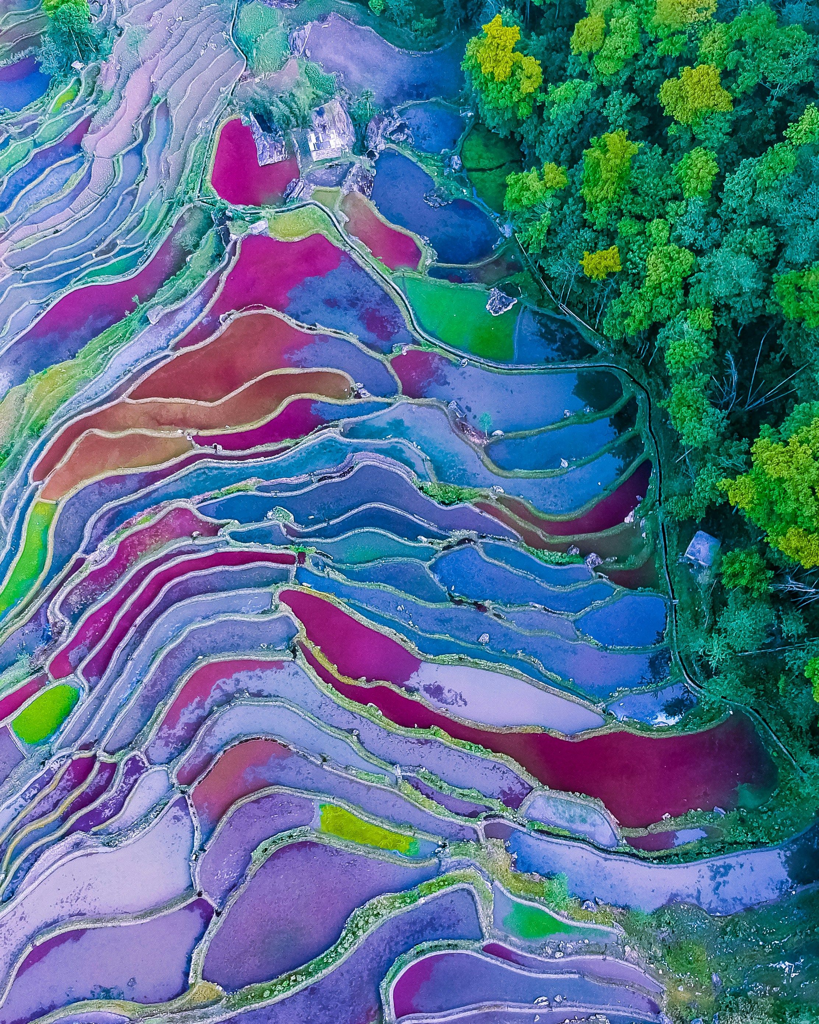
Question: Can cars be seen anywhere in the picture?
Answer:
No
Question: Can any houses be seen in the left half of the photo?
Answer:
Yes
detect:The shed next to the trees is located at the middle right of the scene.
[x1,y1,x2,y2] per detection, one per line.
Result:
[681,530,722,567]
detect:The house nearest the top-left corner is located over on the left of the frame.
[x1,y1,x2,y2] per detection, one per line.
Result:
[241,105,287,172]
